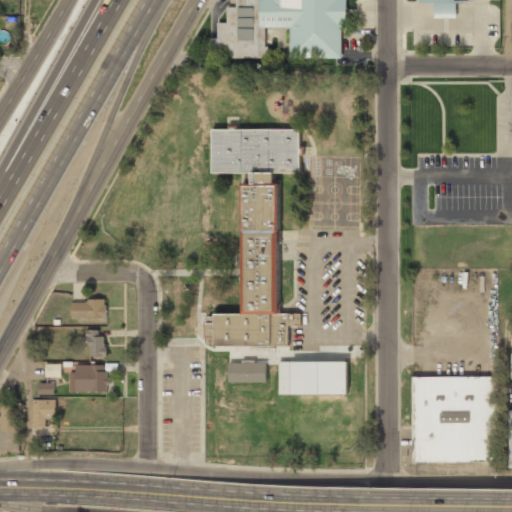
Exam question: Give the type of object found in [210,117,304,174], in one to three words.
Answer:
building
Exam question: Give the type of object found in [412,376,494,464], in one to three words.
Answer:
building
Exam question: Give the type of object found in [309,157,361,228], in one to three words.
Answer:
sports court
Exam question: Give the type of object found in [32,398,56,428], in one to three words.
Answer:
house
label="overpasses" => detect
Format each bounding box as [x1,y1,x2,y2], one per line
[0,472,512,512]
